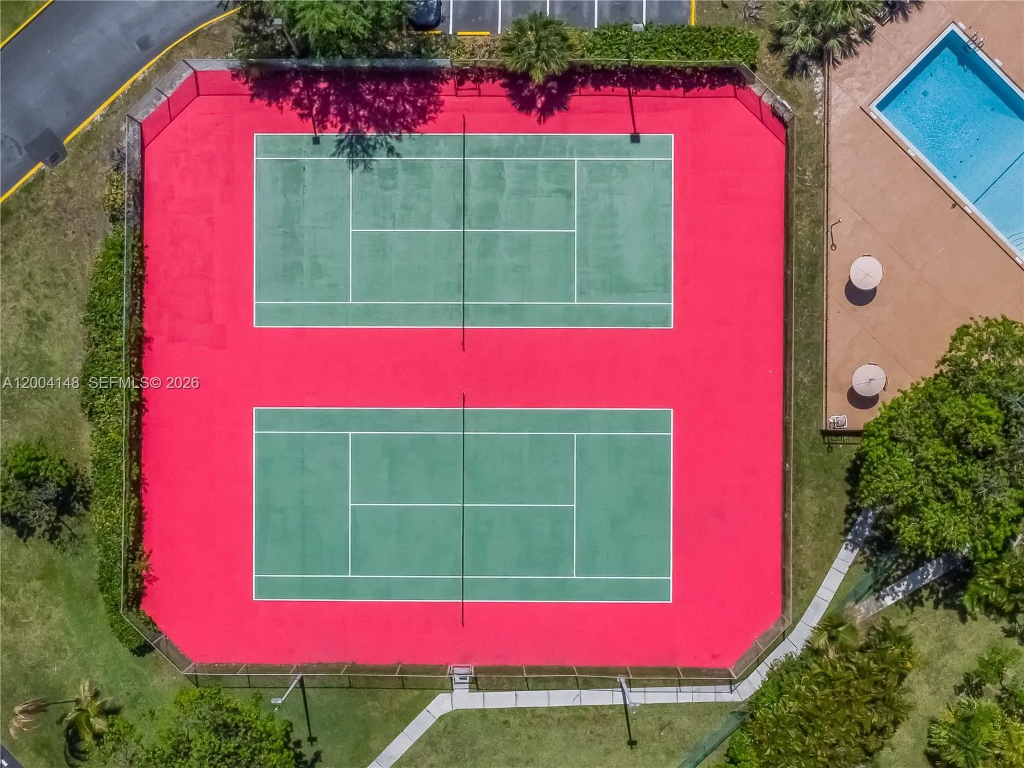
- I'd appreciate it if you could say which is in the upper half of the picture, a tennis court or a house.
tennis court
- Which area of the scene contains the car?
top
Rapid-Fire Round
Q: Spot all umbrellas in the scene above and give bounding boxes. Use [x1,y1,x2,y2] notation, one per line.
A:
[848,257,882,291]
[851,364,885,397]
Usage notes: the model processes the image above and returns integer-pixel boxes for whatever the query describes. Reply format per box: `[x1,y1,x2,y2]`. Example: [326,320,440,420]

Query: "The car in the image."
[408,0,444,30]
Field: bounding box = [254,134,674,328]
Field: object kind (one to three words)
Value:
tennis court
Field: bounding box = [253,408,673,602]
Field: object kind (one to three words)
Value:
tennis court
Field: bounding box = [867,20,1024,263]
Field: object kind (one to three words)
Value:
swimming pool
